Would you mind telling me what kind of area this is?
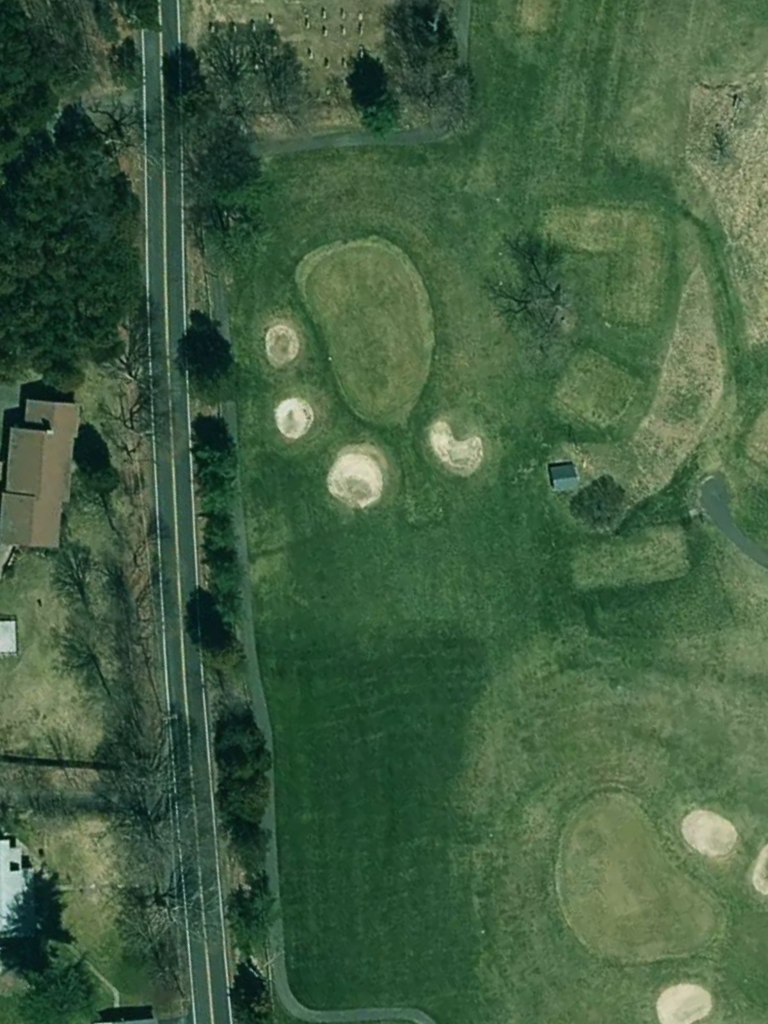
golf course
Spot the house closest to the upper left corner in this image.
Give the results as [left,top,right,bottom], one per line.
[0,400,79,549]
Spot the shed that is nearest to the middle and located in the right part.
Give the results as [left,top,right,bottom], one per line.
[547,460,580,492]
